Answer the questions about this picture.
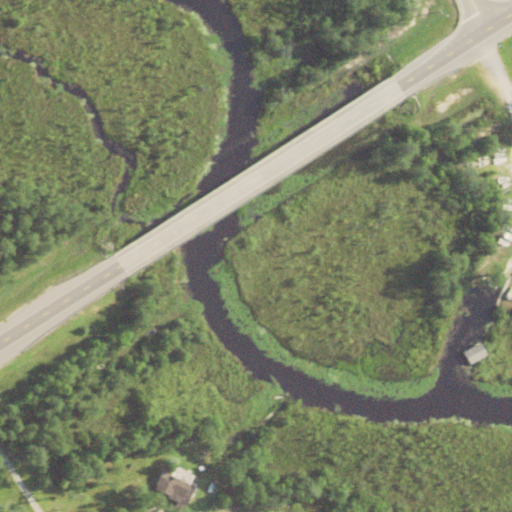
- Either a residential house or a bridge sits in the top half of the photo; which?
bridge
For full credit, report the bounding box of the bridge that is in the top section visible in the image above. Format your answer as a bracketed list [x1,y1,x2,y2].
[114,72,408,276]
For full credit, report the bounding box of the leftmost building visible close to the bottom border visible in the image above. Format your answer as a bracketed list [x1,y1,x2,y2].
[155,466,192,504]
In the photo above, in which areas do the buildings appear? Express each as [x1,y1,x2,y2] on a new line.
[155,466,192,504]
[465,343,488,364]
